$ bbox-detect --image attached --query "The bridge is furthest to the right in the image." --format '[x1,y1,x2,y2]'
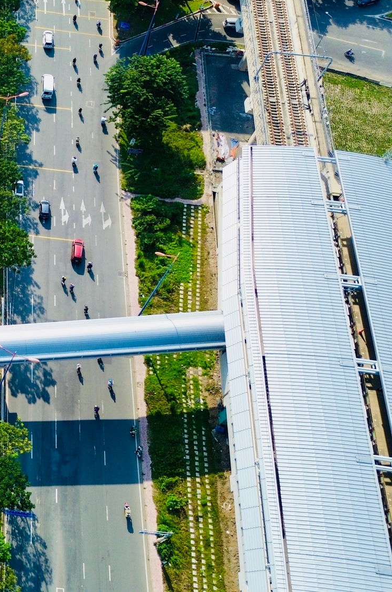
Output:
[224,0,341,212]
